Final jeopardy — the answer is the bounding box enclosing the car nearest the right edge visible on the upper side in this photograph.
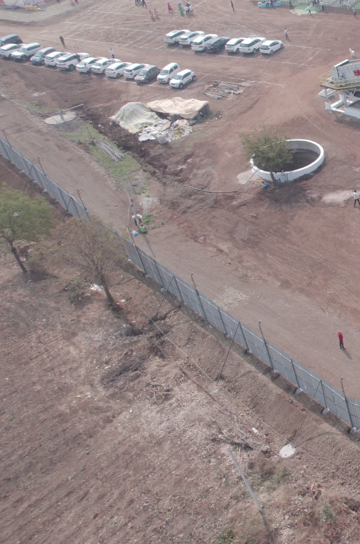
[258,42,283,56]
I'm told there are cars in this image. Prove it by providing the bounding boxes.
[0,34,19,48]
[37,53,64,68]
[258,42,283,56]
[167,69,196,87]
[177,34,197,48]
[119,64,141,79]
[222,40,241,54]
[52,54,86,71]
[237,38,264,55]
[152,60,182,84]
[160,32,187,47]
[8,42,42,62]
[203,37,229,54]
[131,62,160,84]
[87,59,119,76]
[102,63,128,78]
[74,58,105,75]
[188,36,210,53]
[28,48,55,65]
